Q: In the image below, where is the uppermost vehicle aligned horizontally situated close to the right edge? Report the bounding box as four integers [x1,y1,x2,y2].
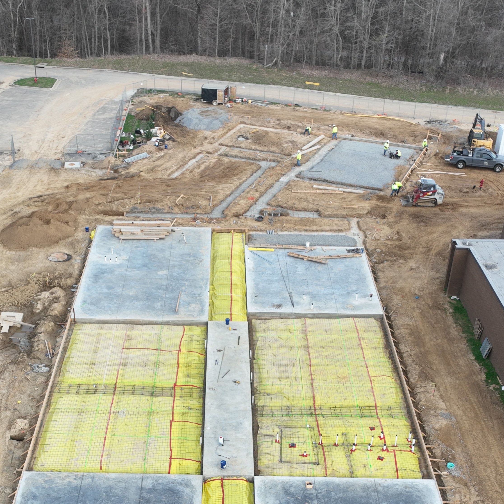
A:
[447,142,504,172]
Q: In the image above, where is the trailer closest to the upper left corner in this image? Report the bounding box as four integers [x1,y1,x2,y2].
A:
[195,78,233,103]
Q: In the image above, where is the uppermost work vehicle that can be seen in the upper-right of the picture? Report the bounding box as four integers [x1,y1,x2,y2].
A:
[463,98,491,146]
